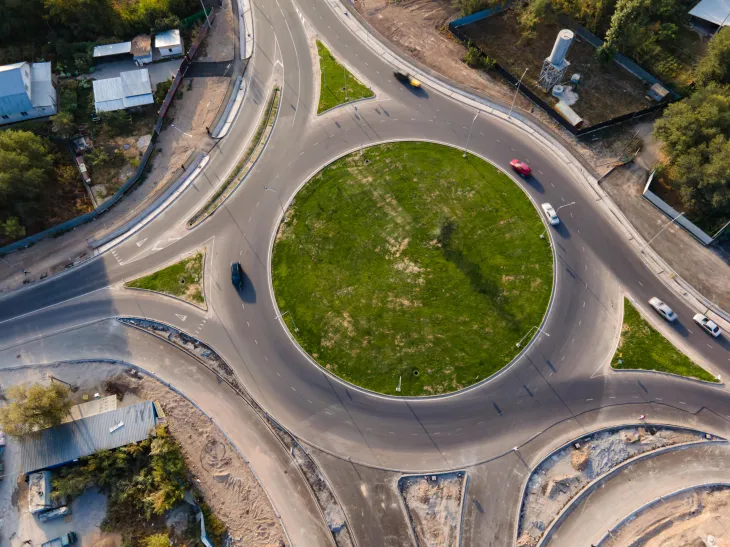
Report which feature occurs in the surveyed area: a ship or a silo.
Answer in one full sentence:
It is a silo that can be seen here.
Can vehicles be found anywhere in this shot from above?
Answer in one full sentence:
Yes, the image includes a vehicle.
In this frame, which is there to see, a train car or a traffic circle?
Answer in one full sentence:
Of the two, only a traffic circle appears.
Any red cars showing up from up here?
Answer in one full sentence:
Yes, you can see a red car in this photo.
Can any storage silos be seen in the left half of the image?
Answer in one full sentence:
No, I can find no storage silo in the left half of the image.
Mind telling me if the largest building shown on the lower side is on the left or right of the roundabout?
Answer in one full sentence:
From the viewer's perspective, the largest building shown on the lower side falls to the left of the roundabout.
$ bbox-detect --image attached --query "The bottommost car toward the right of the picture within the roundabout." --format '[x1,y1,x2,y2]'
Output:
[540,204,561,226]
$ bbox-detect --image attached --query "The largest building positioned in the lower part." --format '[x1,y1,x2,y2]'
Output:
[22,402,159,473]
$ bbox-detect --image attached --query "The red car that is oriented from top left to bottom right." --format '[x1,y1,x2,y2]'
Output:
[508,159,532,178]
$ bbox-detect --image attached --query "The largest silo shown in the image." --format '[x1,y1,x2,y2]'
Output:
[538,26,581,92]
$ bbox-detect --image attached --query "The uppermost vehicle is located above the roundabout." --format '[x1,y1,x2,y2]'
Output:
[395,73,419,88]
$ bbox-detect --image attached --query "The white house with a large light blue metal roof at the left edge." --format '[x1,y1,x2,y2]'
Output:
[0,61,58,128]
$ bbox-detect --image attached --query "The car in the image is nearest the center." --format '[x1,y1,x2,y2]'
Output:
[230,262,245,290]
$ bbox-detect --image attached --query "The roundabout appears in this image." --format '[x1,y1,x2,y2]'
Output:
[212,99,616,466]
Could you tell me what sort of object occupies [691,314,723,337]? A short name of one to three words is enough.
car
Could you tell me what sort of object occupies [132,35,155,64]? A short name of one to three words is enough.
shed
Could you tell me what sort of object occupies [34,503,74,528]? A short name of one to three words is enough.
vehicle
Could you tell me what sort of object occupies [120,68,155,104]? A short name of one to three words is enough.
house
